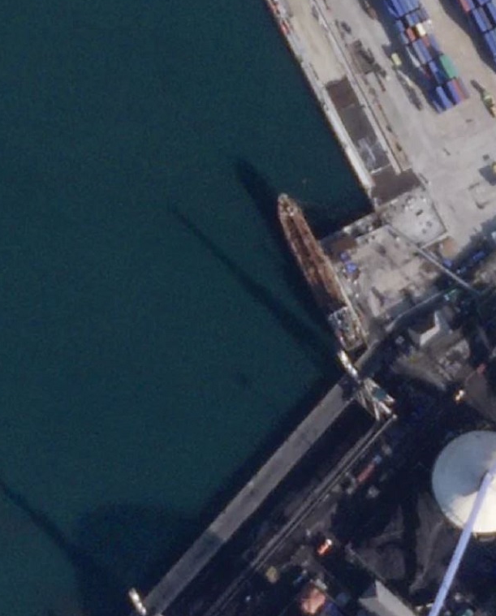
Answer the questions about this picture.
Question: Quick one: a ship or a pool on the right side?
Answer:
ship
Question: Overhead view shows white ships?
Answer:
No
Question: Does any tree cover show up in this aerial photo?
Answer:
No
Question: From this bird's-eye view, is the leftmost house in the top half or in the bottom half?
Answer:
bottom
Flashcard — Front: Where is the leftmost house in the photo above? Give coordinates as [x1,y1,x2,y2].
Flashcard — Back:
[302,588,325,612]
